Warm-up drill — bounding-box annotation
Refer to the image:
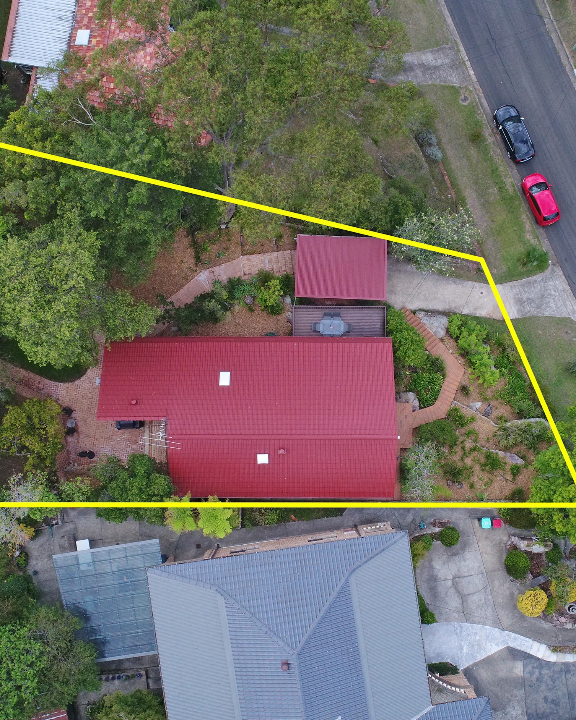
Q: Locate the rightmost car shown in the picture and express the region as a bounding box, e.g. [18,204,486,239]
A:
[522,172,560,229]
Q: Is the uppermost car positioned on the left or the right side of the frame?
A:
right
